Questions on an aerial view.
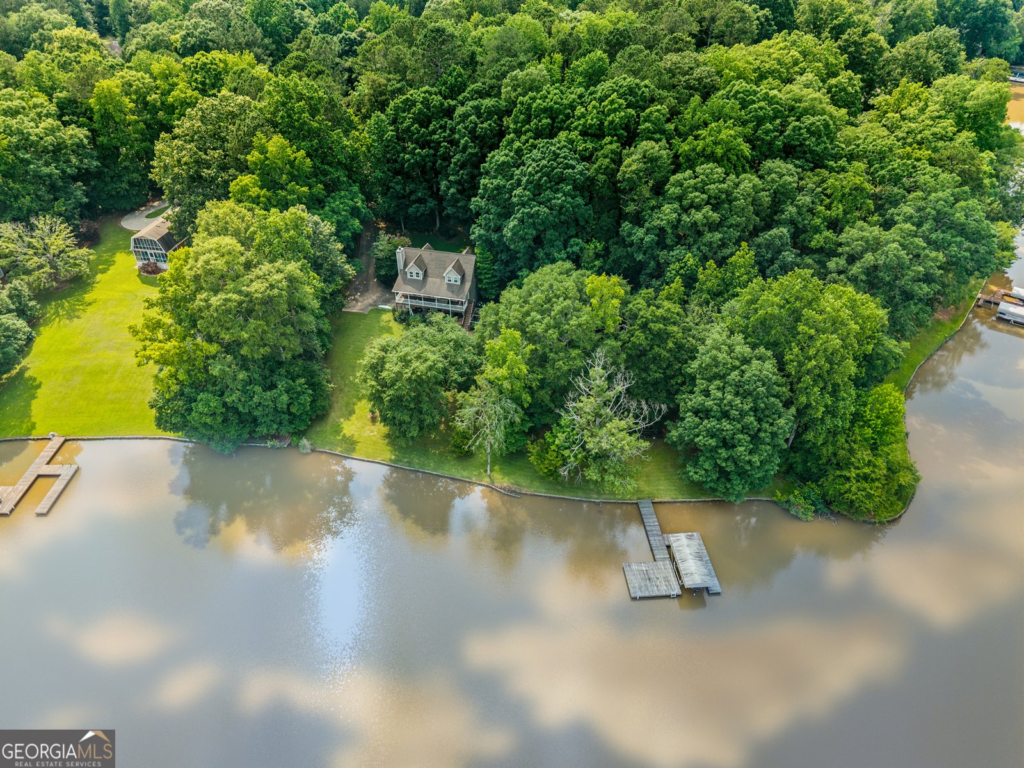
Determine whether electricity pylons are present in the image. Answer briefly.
No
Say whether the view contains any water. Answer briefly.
Yes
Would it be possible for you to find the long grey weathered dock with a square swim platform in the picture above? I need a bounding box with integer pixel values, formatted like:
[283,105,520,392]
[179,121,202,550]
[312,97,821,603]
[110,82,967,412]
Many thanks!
[623,498,721,600]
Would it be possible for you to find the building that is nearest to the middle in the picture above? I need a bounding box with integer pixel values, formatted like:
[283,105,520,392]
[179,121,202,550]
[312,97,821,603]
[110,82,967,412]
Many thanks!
[391,241,481,336]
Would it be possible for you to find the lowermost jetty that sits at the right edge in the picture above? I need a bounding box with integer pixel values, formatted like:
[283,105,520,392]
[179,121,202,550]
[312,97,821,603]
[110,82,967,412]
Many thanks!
[977,289,1024,312]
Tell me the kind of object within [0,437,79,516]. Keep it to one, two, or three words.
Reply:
pier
